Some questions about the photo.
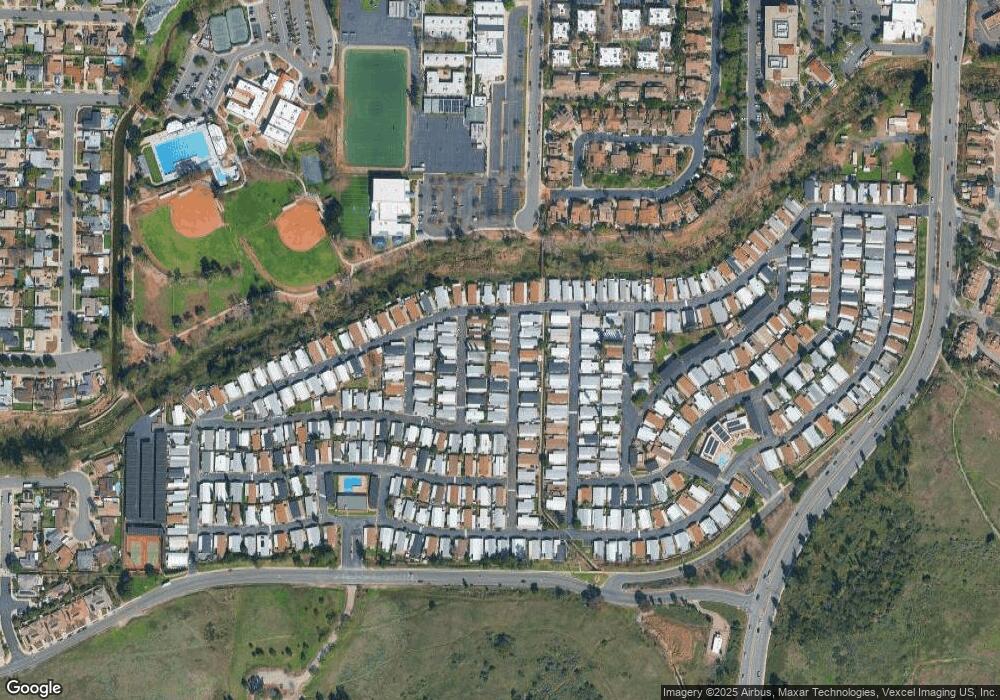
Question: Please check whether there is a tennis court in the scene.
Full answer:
Yes, looking at the shot, I can spot a tennis court.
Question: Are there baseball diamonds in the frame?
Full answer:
Yes, a baseball diamond can be made out from above.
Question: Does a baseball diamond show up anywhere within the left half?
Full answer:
Yes, looking within the left half, one can make out a baseball diamond.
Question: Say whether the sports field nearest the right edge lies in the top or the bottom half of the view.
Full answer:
You can find the sports field nearest the right edge in the top half.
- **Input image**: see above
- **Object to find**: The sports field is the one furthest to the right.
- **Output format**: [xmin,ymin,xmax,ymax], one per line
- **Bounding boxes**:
[341,47,410,170]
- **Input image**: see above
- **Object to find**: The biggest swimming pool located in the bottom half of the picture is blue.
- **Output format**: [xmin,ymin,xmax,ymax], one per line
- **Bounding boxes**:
[344,476,362,492]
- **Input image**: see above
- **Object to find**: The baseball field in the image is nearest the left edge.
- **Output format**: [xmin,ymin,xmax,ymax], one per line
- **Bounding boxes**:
[141,180,246,276]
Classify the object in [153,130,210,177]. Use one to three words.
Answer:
swimming pool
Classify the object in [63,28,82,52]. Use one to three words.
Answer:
house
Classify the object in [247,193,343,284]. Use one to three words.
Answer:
baseball field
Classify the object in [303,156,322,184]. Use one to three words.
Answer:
basketball court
